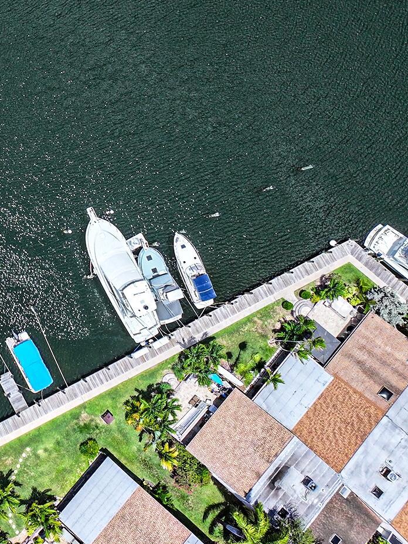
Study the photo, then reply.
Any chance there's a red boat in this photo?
No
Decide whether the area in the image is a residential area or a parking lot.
residential area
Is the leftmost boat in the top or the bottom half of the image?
bottom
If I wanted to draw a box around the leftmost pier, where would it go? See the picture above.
[0,371,28,413]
